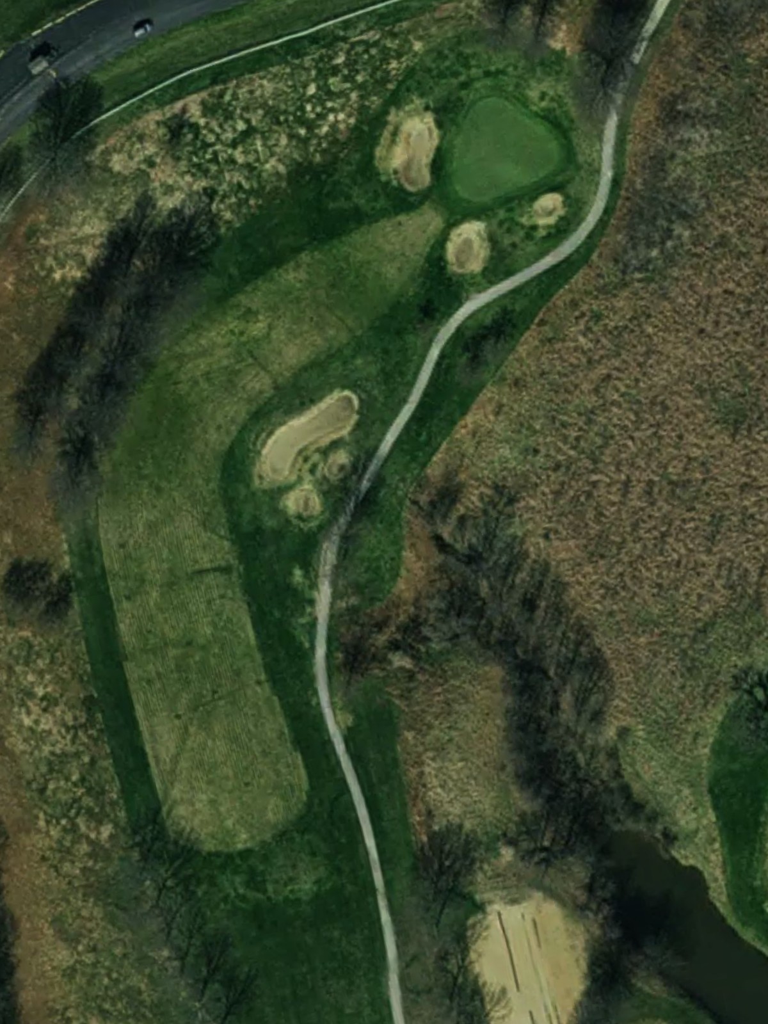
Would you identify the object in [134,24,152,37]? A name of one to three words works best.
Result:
vehicle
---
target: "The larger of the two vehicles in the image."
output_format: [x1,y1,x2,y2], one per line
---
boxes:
[29,55,51,74]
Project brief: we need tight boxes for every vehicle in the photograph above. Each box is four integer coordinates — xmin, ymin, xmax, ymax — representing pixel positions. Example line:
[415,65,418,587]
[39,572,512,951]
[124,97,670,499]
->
[29,55,51,74]
[134,24,152,37]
